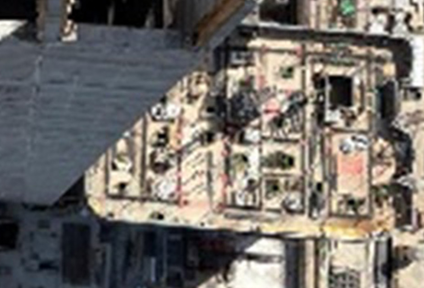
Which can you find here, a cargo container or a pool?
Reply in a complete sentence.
Visible in the photo is a cargo container.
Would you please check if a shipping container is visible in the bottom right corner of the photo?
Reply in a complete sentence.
No, I can find no shipping container in the bottom right corner of the photo.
